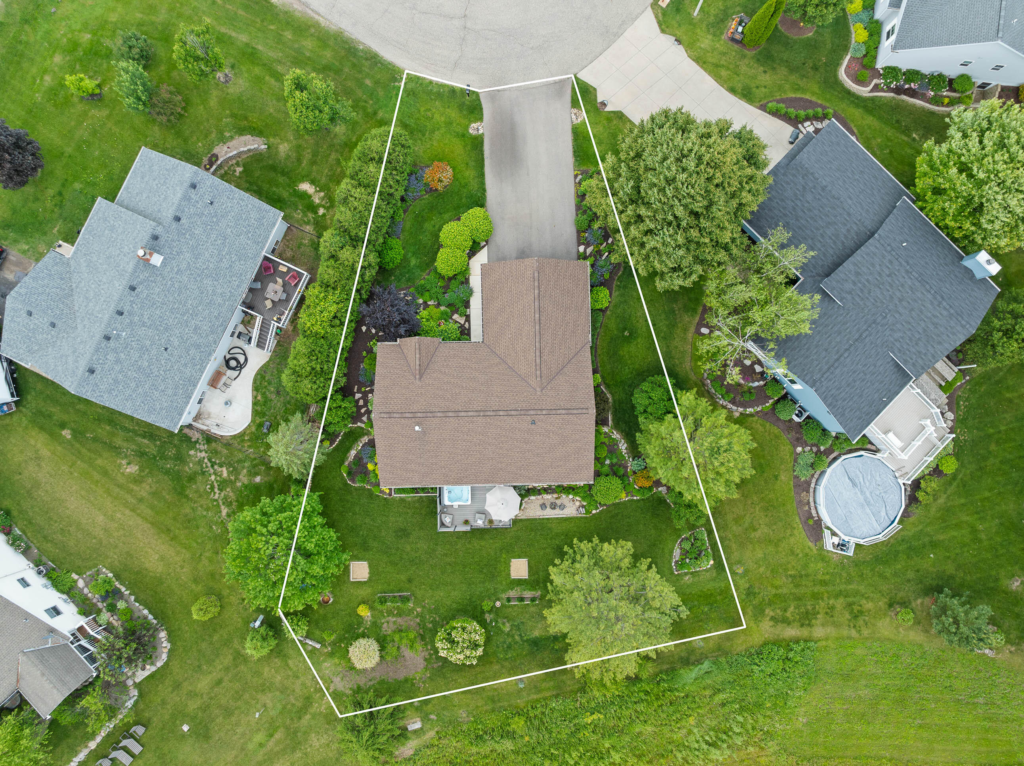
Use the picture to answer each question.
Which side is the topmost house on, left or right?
right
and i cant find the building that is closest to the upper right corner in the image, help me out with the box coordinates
[871,0,1024,83]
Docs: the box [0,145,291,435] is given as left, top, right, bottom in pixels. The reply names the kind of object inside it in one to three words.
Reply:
house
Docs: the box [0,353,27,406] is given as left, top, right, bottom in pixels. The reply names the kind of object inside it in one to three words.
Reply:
camper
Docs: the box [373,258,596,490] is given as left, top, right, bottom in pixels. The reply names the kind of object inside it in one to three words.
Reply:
house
